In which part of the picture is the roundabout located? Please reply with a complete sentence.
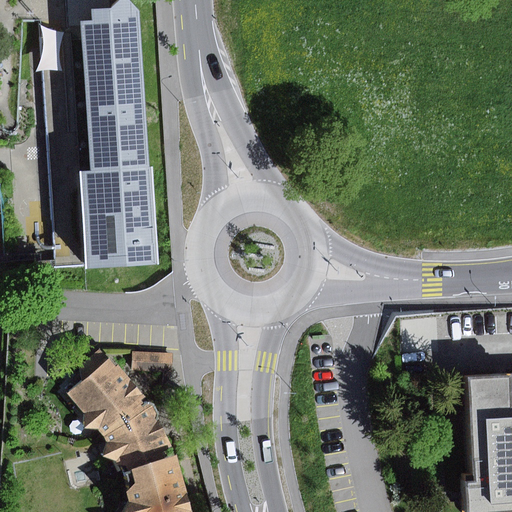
You can find the roundabout in the center area of the picture.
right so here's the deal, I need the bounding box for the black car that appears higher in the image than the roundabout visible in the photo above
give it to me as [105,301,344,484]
[208,54,222,79]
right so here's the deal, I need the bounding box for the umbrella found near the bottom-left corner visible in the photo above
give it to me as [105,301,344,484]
[69,420,83,434]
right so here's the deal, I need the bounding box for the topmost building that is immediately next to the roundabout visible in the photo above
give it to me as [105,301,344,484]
[80,0,150,170]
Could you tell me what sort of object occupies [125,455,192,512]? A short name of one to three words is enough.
house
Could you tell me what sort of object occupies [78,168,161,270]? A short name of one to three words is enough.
building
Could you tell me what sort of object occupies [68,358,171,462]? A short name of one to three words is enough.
house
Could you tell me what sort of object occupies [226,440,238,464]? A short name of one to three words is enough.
vehicle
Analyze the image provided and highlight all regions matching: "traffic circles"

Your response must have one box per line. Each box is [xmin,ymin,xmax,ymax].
[186,180,330,328]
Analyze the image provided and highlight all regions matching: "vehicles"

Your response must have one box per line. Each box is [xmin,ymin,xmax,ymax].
[326,466,346,476]
[208,54,222,79]
[462,314,473,336]
[313,370,333,380]
[320,430,342,441]
[433,267,454,277]
[485,314,496,334]
[322,442,344,453]
[404,363,425,373]
[312,357,334,367]
[315,382,338,392]
[450,317,462,342]
[317,393,338,404]
[402,352,426,363]
[474,314,484,336]
[226,440,238,464]
[507,313,512,334]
